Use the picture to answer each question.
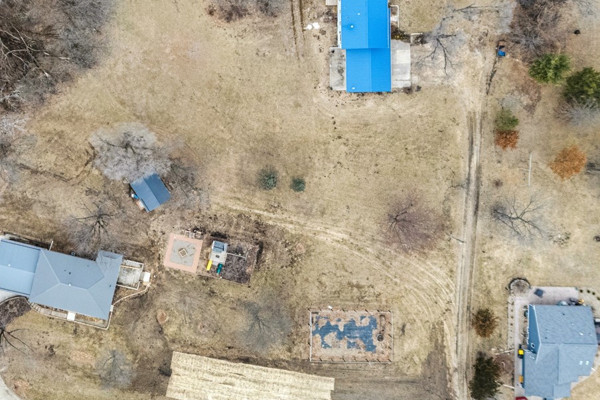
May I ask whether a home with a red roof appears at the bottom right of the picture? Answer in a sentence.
No, looking at the bottom right of the picture, there is no home with a red roof.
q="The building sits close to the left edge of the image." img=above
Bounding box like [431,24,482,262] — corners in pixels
[0,238,123,321]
